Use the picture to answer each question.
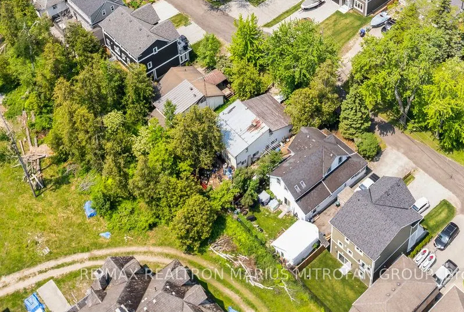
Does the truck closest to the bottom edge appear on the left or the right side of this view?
right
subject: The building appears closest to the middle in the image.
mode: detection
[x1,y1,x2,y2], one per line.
[214,95,288,162]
